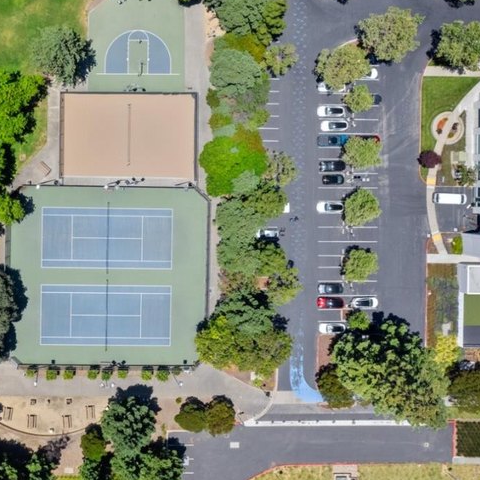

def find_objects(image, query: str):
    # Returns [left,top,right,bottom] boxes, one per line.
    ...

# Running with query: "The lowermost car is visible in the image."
[319,322,347,334]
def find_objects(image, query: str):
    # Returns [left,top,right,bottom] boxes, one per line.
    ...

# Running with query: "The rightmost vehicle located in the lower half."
[350,297,378,309]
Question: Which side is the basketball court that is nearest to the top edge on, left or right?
left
